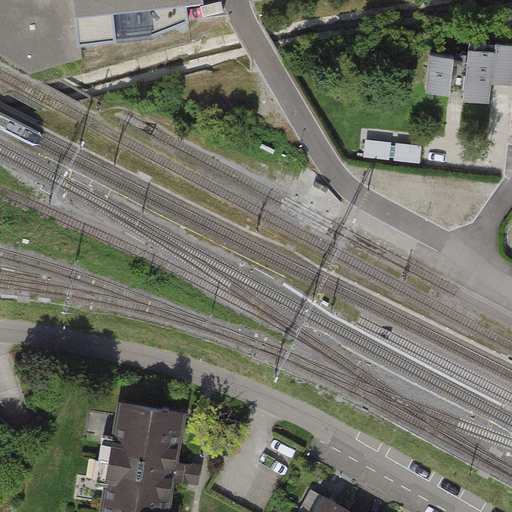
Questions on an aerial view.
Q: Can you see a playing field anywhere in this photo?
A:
No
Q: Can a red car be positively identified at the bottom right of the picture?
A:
No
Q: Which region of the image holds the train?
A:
top left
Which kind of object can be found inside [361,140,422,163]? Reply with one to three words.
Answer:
building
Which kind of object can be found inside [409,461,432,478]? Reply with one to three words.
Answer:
car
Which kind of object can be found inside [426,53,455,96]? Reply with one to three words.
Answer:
house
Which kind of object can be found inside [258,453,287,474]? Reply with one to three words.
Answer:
truck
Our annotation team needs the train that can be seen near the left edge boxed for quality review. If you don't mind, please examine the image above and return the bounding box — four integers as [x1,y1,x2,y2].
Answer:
[0,112,44,146]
